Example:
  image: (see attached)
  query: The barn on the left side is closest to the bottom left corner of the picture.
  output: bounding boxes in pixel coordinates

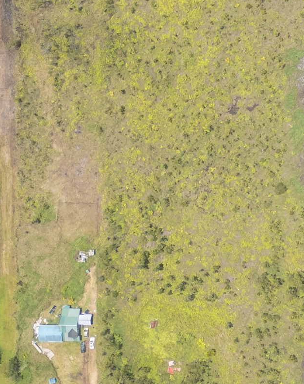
[39,325,63,343]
